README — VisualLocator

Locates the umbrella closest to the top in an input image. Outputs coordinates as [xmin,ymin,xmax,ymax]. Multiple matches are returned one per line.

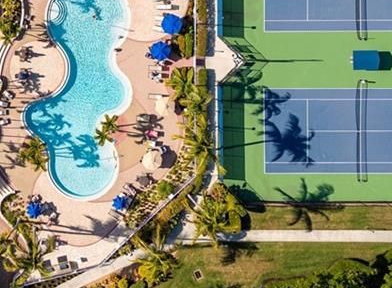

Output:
[160,14,181,34]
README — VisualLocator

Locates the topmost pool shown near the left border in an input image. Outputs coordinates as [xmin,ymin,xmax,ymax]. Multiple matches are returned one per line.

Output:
[19,0,132,203]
